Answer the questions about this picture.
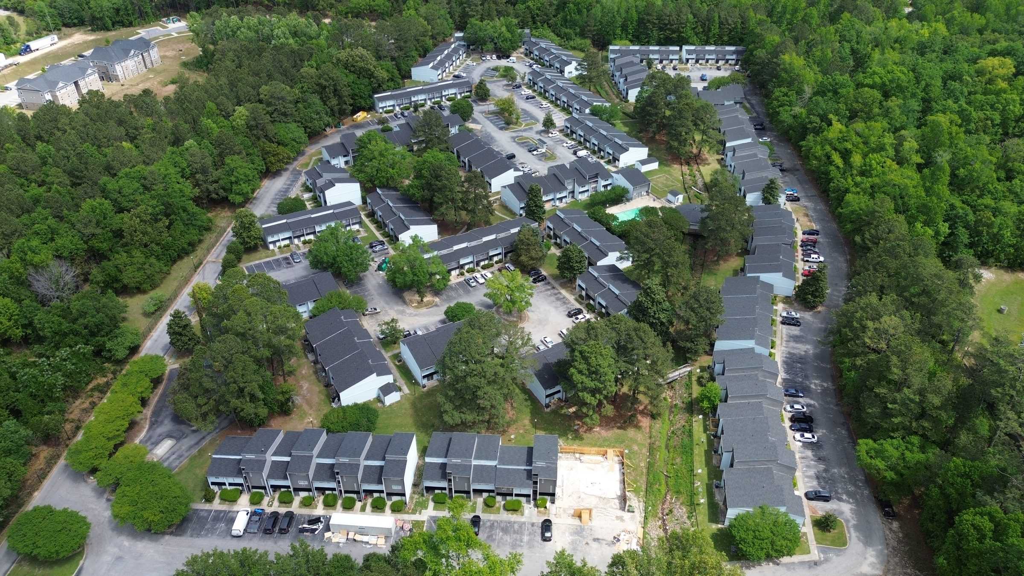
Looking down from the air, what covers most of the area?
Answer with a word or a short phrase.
trees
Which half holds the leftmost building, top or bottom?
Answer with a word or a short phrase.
top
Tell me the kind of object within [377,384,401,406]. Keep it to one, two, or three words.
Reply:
shed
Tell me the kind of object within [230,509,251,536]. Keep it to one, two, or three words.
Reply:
vehicle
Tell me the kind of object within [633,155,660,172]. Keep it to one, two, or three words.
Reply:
shed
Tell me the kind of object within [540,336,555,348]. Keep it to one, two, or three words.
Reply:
vehicle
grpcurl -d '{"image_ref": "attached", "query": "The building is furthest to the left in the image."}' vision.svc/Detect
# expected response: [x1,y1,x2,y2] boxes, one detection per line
[21,67,104,112]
